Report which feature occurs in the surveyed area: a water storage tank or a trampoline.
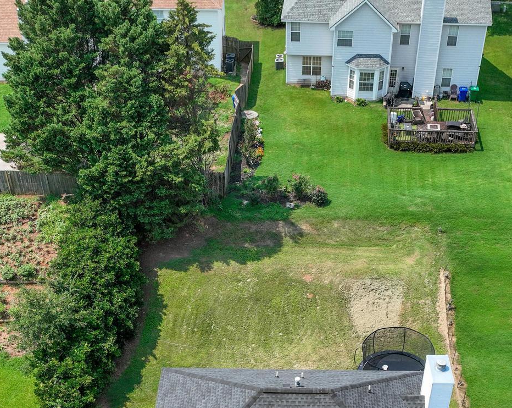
trampoline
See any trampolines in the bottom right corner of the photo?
Yes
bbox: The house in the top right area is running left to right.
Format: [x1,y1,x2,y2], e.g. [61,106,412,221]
[280,0,494,100]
